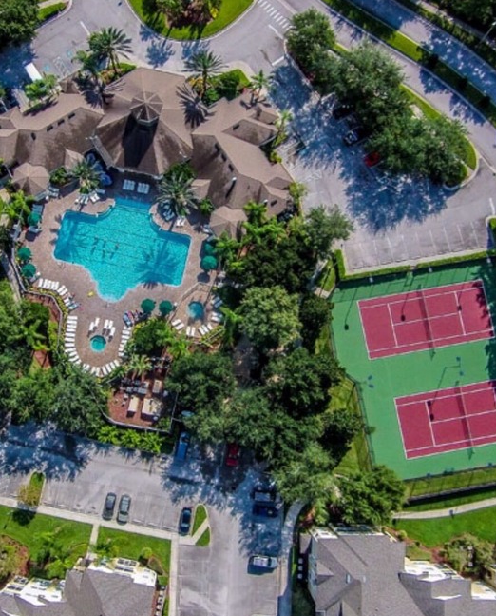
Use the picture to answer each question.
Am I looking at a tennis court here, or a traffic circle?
tennis court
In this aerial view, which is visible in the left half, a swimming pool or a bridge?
swimming pool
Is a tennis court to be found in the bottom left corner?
No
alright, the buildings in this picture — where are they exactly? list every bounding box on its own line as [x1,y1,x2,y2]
[0,558,164,616]
[307,524,496,616]
[0,68,293,216]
